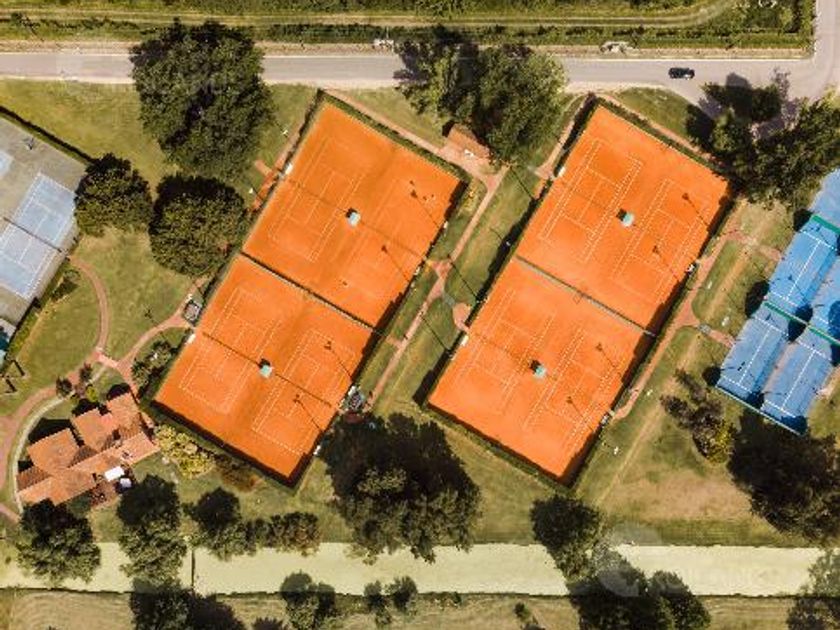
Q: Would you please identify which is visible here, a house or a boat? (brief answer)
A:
house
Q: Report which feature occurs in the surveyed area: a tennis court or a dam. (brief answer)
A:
tennis court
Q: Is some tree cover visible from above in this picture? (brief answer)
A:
Yes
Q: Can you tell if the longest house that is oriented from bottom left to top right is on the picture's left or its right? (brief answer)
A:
left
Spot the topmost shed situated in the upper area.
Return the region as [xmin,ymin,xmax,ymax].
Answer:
[446,123,491,162]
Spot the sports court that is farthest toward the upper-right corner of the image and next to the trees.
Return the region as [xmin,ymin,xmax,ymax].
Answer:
[808,161,840,233]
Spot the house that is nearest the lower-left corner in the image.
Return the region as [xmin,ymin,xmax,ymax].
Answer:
[14,387,165,514]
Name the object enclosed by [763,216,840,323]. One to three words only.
sports court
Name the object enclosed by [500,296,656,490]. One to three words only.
tennis court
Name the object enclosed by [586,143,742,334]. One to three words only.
tennis court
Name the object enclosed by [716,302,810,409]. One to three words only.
sports court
